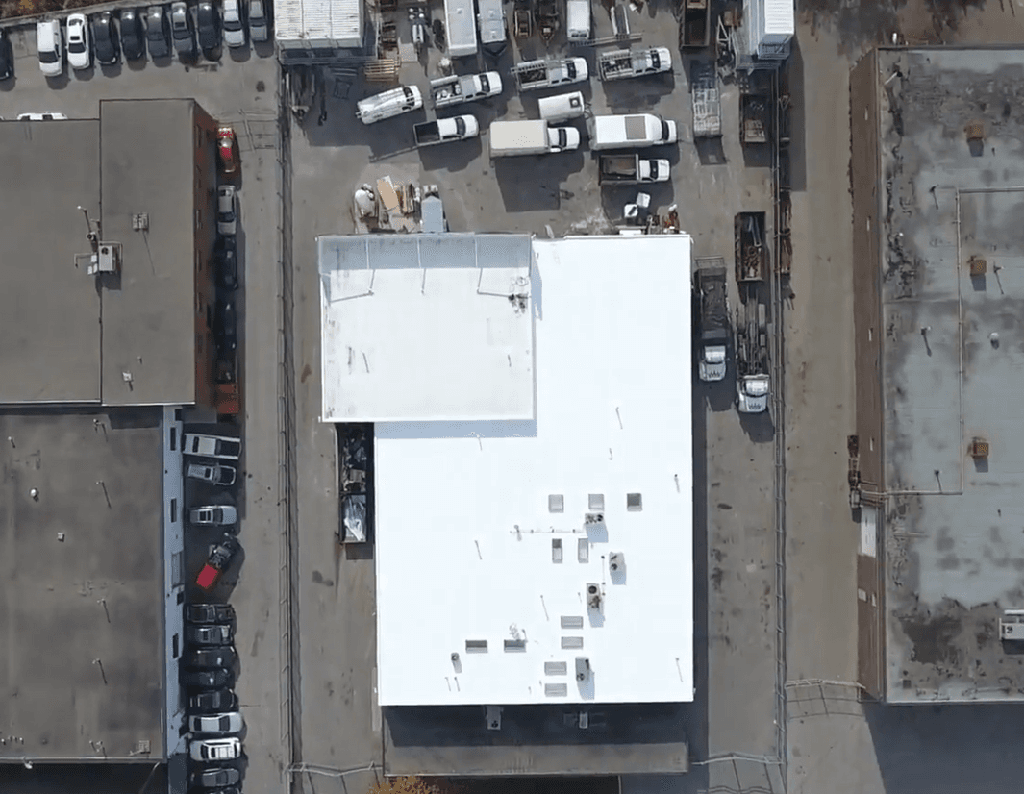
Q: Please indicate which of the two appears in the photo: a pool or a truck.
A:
truck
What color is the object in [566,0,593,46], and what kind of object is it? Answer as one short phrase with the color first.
white vehicle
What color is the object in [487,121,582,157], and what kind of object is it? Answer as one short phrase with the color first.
white truck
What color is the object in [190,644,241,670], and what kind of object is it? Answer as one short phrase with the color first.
black car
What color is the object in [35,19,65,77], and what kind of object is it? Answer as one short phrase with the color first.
white van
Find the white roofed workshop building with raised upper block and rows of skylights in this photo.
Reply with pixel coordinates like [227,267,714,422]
[313,231,698,776]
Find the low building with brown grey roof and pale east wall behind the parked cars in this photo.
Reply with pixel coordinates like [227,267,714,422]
[0,407,185,762]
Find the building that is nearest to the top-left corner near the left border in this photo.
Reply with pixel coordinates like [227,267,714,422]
[0,99,218,405]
